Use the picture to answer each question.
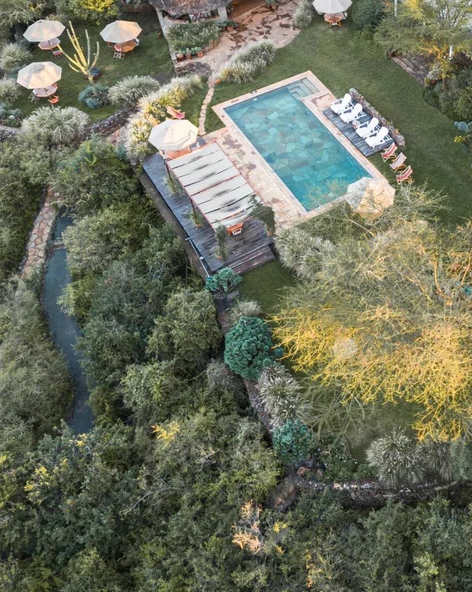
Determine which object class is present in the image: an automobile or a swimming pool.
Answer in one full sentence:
Visible in the photo is a swimming pool.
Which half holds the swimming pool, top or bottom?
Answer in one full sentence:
It is in the top half that the swimming pool appears.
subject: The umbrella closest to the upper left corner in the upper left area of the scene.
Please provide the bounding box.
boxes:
[24,24,68,53]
